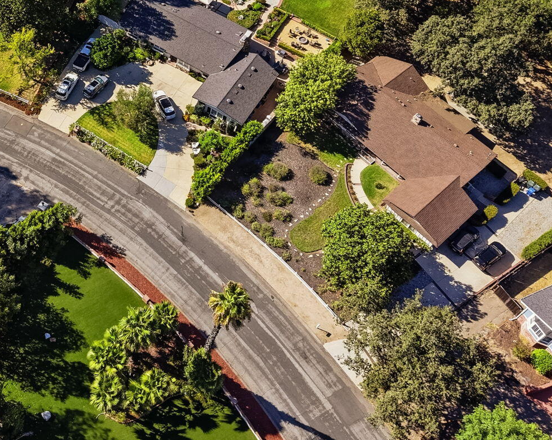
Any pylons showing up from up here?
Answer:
No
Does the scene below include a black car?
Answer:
Yes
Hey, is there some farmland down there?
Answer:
No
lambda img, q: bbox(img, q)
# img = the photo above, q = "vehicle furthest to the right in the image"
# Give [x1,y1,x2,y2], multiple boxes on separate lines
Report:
[470,236,512,273]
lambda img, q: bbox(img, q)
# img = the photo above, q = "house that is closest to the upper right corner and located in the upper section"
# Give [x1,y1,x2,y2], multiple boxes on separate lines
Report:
[337,58,498,253]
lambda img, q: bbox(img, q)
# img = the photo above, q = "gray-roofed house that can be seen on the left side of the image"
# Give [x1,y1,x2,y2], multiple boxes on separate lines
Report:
[120,0,279,134]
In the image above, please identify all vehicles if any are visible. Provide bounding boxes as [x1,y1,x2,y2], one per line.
[445,224,487,262]
[70,34,97,72]
[470,236,512,273]
[151,86,180,122]
[53,68,79,103]
[79,68,112,103]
